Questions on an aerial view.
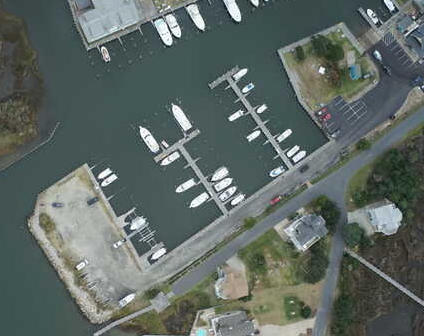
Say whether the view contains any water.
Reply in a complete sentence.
Yes, the picture does contain water.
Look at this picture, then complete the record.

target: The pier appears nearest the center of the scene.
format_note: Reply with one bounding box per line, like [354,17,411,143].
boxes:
[153,129,239,215]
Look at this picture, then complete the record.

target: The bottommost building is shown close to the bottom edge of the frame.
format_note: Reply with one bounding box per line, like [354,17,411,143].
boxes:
[208,310,257,336]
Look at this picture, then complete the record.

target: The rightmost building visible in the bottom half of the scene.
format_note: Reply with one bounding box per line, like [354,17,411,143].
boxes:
[362,200,402,235]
